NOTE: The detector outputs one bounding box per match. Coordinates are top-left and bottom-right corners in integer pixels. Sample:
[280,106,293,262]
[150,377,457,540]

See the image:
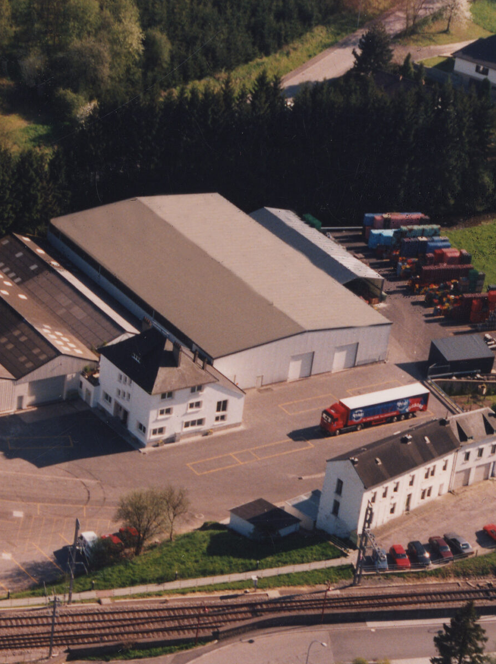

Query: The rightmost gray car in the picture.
[443,526,478,554]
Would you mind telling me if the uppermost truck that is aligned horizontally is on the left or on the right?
right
